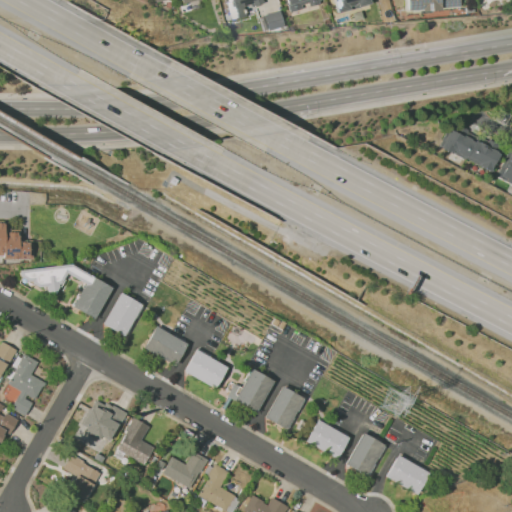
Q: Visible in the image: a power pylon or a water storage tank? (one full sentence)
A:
It is a power pylon that can be seen here.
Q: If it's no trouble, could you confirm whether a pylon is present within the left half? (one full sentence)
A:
No, I see no pylon within the left half.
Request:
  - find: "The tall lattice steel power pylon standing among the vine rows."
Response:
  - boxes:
[380,388,416,416]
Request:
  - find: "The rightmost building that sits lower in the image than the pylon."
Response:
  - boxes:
[384,454,428,493]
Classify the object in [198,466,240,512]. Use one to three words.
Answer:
house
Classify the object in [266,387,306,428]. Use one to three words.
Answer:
building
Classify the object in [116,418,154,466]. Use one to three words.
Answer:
house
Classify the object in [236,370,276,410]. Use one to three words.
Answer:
building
